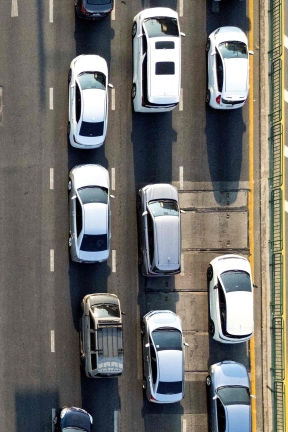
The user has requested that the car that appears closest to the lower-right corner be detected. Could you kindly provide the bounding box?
[207,361,257,432]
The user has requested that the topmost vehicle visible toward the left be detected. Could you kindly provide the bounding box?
[73,0,114,23]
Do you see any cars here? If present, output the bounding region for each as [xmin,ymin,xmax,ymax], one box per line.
[140,183,187,278]
[68,163,115,263]
[143,309,189,405]
[207,25,255,110]
[81,291,128,379]
[54,407,94,432]
[73,0,114,23]
[207,361,257,432]
[209,254,260,344]
[68,54,114,150]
